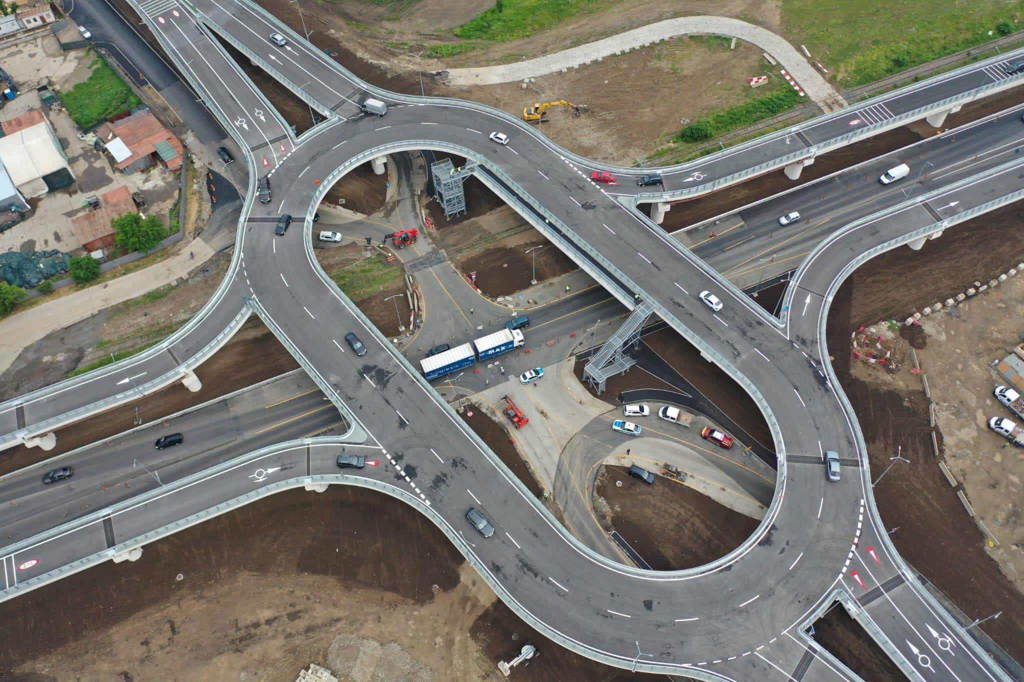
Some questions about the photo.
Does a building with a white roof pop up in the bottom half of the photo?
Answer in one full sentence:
No, no building with a white roof is visible in the bottom half of the photo.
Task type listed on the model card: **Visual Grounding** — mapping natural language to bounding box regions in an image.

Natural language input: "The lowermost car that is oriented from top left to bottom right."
[464,505,496,538]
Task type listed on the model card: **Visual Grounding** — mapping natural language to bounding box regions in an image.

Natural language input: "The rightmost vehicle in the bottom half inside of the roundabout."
[824,450,841,482]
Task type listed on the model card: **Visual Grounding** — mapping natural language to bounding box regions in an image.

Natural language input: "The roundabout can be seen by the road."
[154,23,916,682]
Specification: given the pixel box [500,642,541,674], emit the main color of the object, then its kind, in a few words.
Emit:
white work vehicle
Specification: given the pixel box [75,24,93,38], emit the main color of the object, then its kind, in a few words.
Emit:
white car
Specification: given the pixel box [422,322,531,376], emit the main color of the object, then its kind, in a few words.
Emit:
white truck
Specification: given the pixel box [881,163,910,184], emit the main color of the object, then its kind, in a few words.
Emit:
white vehicle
